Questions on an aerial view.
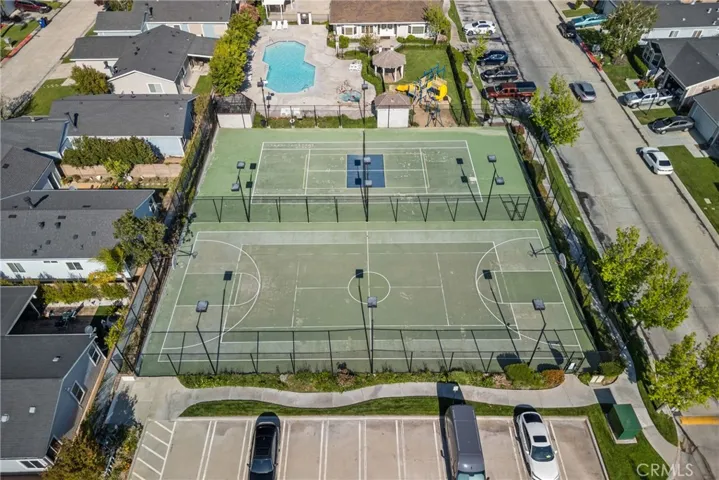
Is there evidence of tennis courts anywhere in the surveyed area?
Yes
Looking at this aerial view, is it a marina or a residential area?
residential area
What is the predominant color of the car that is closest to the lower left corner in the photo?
black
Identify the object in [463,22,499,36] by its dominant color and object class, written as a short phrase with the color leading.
white car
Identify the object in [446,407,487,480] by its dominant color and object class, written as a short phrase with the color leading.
gray van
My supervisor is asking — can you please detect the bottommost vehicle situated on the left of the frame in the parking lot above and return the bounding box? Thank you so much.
[243,415,281,480]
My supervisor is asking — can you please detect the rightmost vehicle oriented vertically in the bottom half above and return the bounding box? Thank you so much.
[515,408,558,480]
